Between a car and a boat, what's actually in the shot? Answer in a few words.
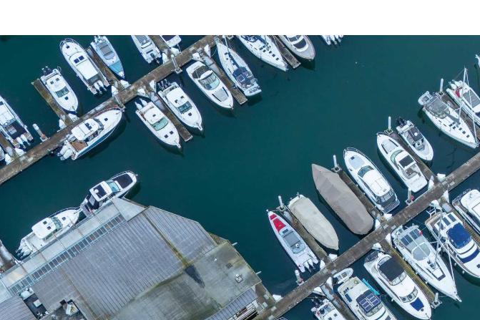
boat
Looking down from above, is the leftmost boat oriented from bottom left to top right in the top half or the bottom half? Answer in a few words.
bottom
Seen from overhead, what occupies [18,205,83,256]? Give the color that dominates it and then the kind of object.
white boat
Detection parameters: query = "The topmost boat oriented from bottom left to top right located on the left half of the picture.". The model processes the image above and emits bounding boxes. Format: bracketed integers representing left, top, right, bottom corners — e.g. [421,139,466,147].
[65,103,124,161]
